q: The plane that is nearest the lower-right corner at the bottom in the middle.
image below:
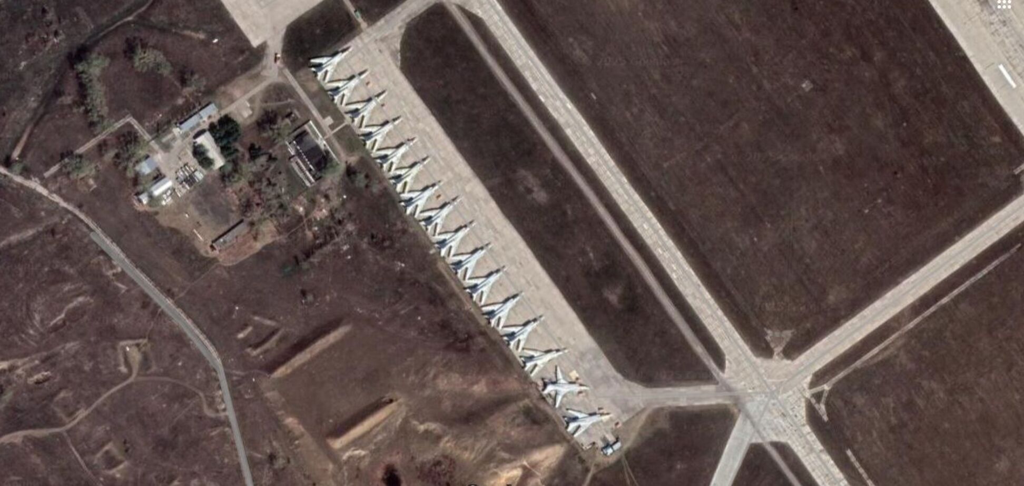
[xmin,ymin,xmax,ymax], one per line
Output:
[566,408,612,437]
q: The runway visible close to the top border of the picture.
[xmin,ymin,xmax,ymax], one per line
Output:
[929,0,1024,135]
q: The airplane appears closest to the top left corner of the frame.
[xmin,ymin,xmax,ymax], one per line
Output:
[308,48,349,82]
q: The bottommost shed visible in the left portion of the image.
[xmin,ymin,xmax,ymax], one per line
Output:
[213,221,249,250]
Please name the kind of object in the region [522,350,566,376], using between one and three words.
airplane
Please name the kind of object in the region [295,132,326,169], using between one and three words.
building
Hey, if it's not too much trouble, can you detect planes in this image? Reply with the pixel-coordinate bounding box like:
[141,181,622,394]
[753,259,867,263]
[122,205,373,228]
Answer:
[308,48,349,82]
[388,158,429,192]
[421,197,461,232]
[465,268,507,303]
[450,245,491,279]
[482,294,522,328]
[375,138,416,172]
[501,317,543,351]
[345,91,386,125]
[399,181,441,216]
[543,368,587,409]
[522,350,566,376]
[566,408,612,437]
[327,70,367,104]
[434,222,476,257]
[359,118,401,151]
